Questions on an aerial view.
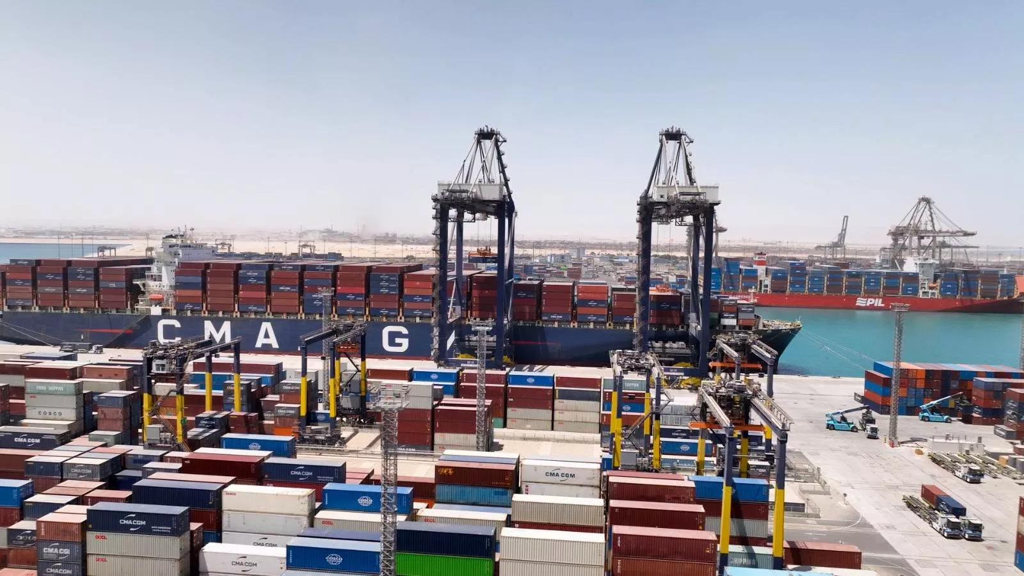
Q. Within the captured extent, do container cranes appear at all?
Yes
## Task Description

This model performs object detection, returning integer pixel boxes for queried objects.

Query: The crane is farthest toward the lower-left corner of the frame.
[139,333,245,454]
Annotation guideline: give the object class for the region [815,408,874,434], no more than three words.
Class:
work vehicle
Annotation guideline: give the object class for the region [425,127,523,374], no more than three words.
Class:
container crane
